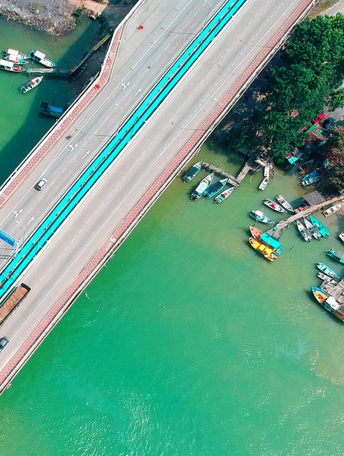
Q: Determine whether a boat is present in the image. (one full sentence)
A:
Yes, there is a boat in the image.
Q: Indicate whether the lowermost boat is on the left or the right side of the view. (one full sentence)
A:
The lowermost boat appears in the right half of the scene.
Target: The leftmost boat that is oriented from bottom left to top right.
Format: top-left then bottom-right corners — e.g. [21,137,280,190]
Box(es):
[18,75,44,94]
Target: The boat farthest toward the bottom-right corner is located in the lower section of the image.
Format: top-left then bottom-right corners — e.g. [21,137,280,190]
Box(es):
[310,283,344,323]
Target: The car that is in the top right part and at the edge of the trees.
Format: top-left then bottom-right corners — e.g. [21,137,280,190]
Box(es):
[325,116,337,129]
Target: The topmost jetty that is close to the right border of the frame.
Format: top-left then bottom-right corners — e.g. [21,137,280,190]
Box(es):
[270,195,344,235]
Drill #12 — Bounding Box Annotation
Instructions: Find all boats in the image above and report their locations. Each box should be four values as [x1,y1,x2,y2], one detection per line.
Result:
[3,54,30,64]
[30,51,57,66]
[316,273,336,283]
[262,199,288,213]
[183,160,203,184]
[2,48,31,59]
[0,60,26,71]
[247,210,276,224]
[296,219,310,243]
[300,169,322,182]
[276,194,296,213]
[257,176,270,192]
[39,103,67,119]
[249,224,285,257]
[325,250,344,264]
[309,214,329,238]
[214,186,236,205]
[18,75,44,94]
[303,217,320,242]
[248,237,279,264]
[191,171,216,202]
[314,262,341,279]
[205,178,229,200]
[310,283,344,323]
